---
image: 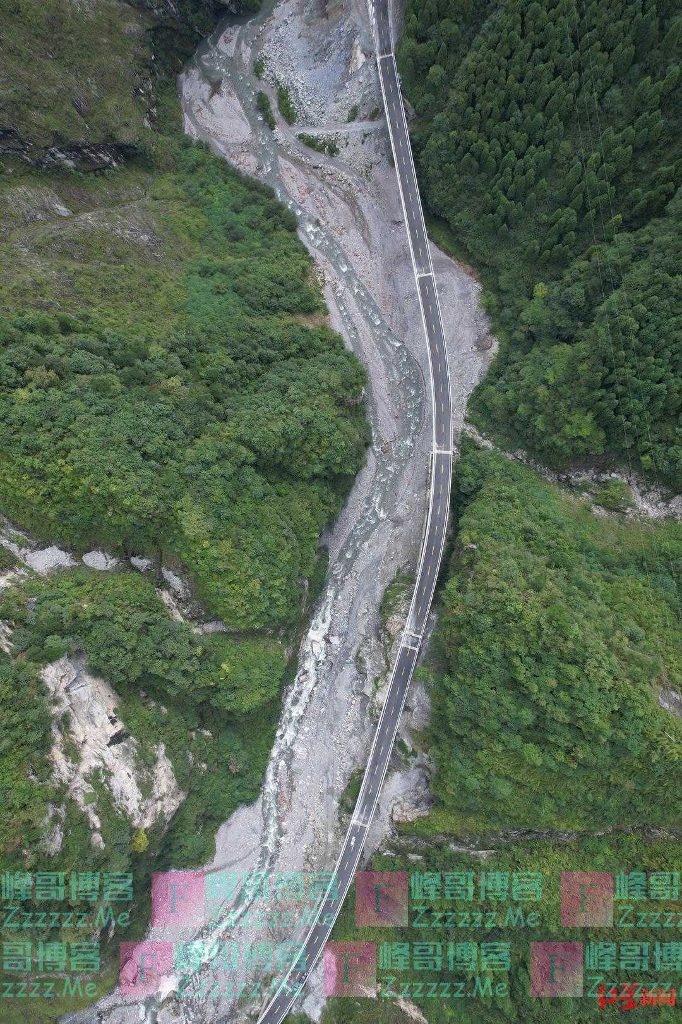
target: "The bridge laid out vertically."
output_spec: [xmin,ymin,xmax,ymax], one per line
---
[258,52,453,1024]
